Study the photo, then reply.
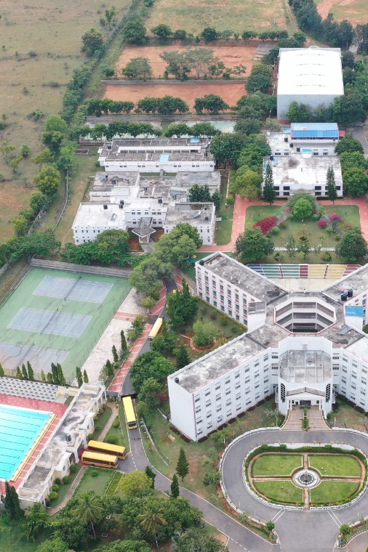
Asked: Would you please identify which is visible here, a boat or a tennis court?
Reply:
tennis court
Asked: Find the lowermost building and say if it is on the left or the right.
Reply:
left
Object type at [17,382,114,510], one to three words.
building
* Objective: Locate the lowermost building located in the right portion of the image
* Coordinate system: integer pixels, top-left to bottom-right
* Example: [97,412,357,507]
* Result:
[168,251,368,442]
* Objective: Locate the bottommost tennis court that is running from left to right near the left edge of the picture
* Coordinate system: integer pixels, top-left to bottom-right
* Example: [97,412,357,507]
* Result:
[0,342,69,374]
